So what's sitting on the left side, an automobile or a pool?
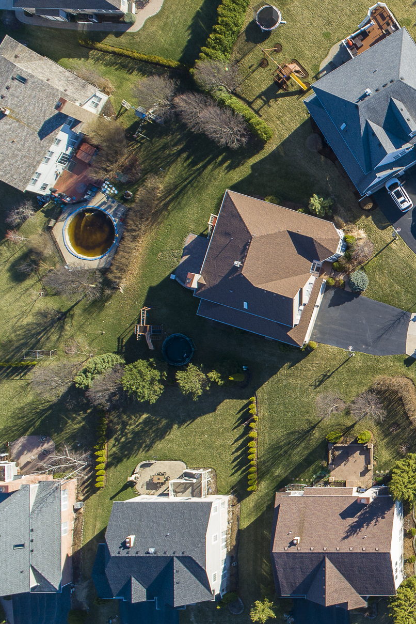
pool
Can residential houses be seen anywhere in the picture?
Yes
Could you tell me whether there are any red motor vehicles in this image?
No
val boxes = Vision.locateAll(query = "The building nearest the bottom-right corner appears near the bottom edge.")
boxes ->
[270,484,402,610]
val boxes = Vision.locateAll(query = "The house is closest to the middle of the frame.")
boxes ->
[184,189,345,349]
